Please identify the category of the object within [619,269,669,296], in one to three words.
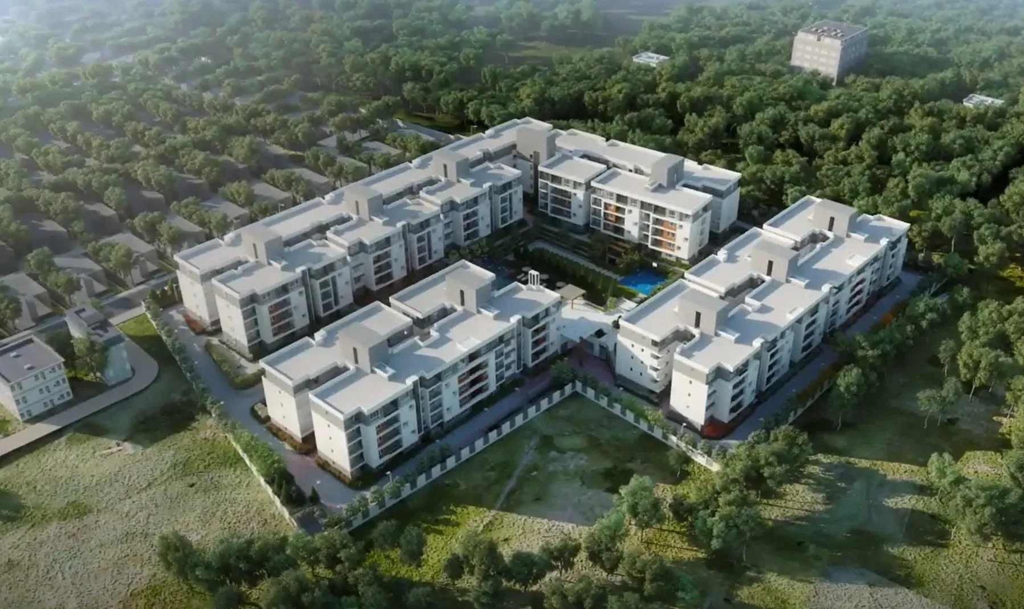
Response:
swimming pool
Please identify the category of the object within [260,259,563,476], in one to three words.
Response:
building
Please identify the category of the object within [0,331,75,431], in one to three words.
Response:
building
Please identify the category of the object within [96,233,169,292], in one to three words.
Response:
house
